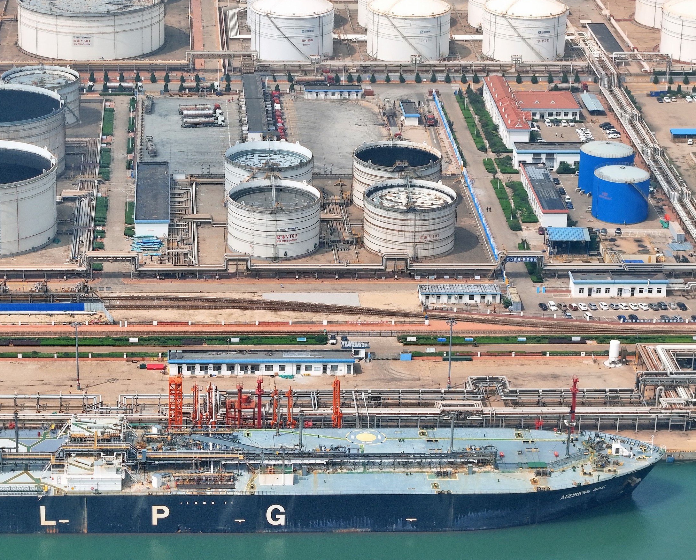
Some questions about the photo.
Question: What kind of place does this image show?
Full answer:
What you see here is an industrial area.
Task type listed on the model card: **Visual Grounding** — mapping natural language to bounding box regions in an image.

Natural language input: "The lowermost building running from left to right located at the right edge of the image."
[568,271,670,299]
